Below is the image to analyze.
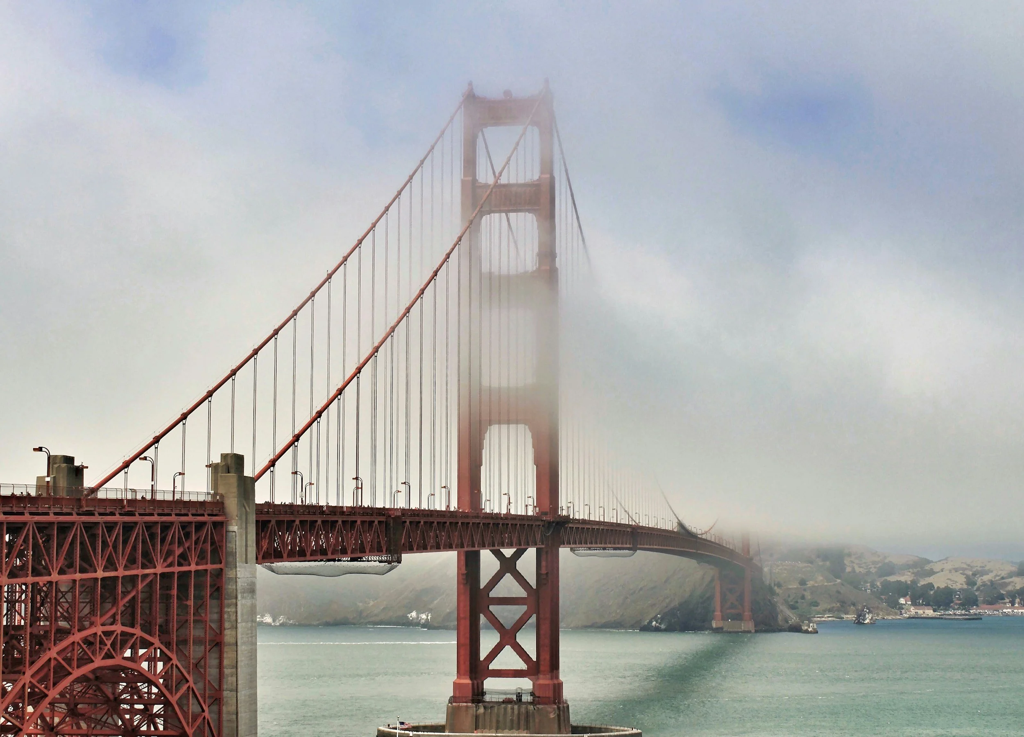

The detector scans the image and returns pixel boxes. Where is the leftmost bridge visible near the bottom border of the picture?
[0,495,228,737]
